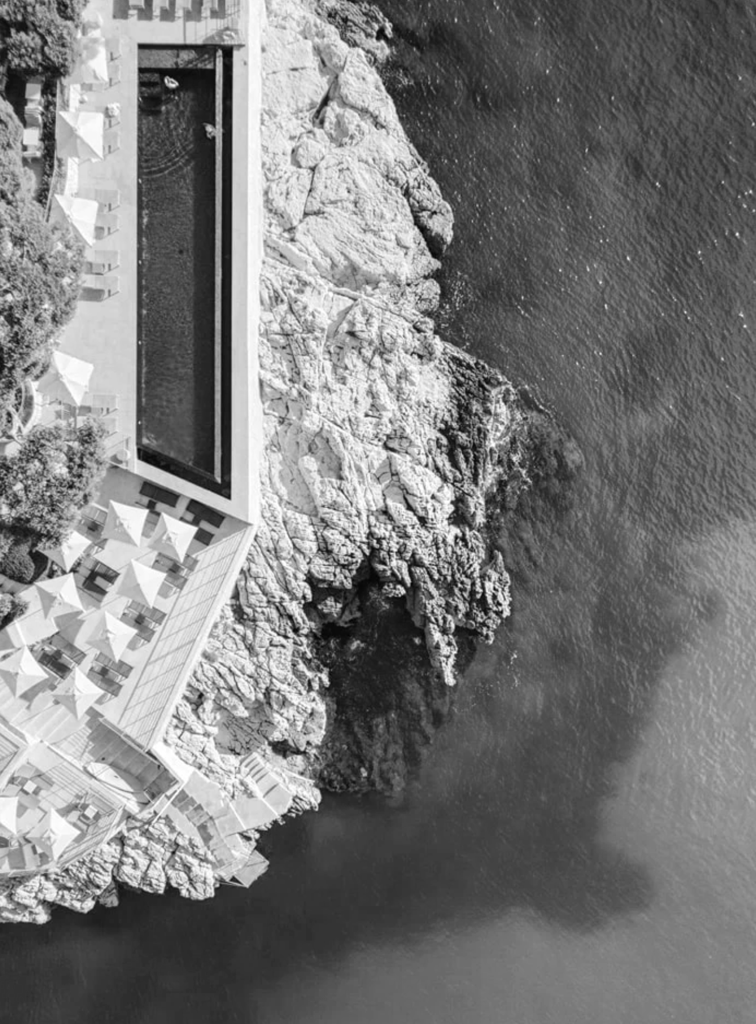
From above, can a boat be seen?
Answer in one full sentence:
Yes, there's a boat down there.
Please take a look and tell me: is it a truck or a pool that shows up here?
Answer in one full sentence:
The image shows a pool.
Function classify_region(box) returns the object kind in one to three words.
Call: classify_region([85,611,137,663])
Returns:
umbrella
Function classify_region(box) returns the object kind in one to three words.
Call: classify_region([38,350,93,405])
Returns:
umbrella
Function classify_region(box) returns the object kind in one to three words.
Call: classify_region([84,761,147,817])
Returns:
boat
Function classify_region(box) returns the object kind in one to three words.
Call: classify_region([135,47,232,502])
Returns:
swimming pool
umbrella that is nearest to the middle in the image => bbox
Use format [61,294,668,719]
[147,513,197,562]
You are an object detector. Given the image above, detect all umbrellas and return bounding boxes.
[51,667,104,718]
[0,645,48,698]
[34,573,84,620]
[85,611,137,663]
[0,797,18,834]
[38,350,93,405]
[49,195,98,246]
[68,38,108,85]
[25,808,81,862]
[101,500,149,547]
[36,533,91,572]
[147,513,197,562]
[116,560,166,608]
[58,111,103,162]
[80,10,107,40]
